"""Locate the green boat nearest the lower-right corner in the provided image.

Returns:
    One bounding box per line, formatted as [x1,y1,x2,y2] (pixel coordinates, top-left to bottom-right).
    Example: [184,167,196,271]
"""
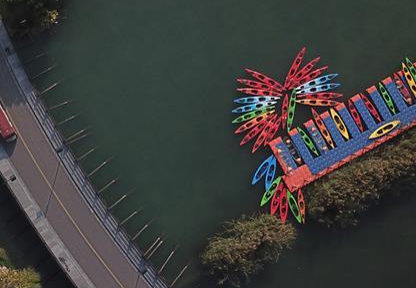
[288,190,301,223]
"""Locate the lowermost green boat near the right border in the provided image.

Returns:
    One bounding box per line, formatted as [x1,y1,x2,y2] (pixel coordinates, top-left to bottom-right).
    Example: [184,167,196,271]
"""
[380,83,396,115]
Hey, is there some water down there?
Yes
